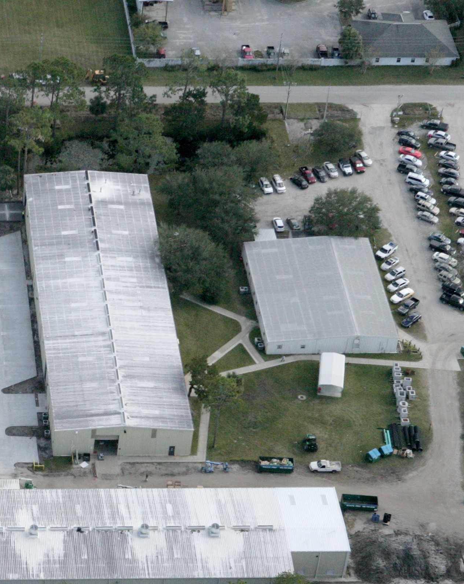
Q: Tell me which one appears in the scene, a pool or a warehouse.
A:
warehouse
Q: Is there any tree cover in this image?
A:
Yes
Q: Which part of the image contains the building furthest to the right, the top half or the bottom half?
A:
top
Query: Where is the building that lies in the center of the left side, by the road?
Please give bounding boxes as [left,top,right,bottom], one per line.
[22,170,196,457]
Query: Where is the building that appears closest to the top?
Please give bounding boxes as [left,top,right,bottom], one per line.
[354,4,457,66]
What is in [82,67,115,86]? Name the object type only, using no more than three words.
work vehicle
